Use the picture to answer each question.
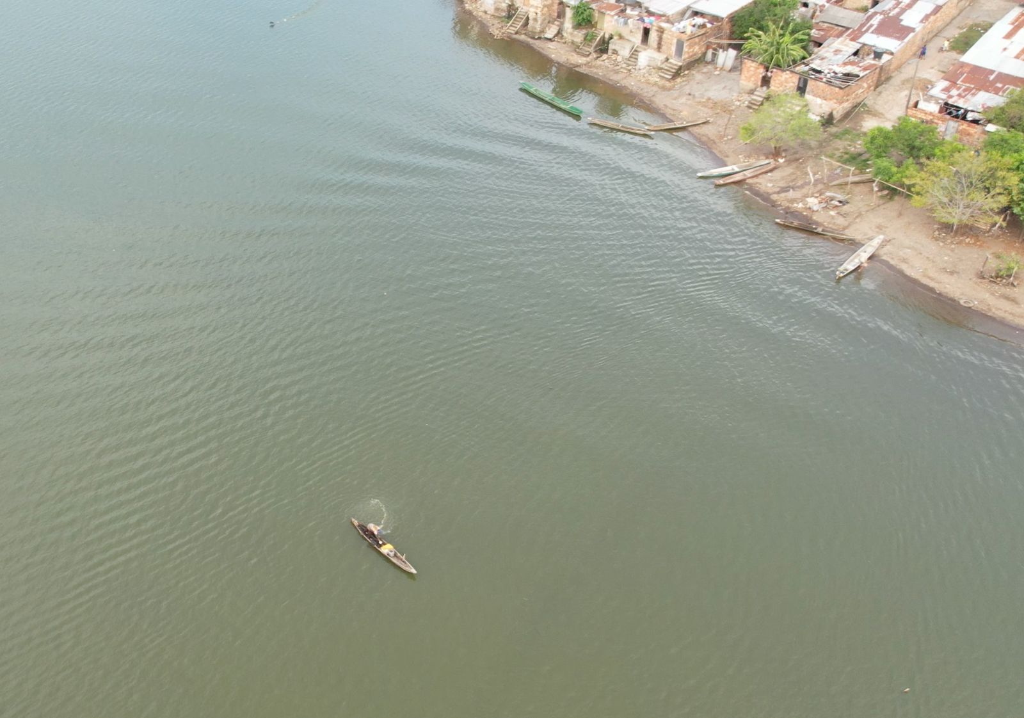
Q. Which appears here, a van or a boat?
boat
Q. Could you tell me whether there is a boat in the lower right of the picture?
No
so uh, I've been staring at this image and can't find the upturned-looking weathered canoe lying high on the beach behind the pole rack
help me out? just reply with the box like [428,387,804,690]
[828,172,881,189]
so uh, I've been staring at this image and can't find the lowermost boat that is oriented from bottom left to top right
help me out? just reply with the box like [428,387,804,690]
[836,235,884,280]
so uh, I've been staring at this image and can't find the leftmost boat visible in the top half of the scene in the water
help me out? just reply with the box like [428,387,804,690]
[519,81,582,117]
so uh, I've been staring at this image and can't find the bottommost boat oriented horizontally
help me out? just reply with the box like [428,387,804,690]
[775,220,856,242]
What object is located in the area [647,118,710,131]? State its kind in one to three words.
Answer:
boat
